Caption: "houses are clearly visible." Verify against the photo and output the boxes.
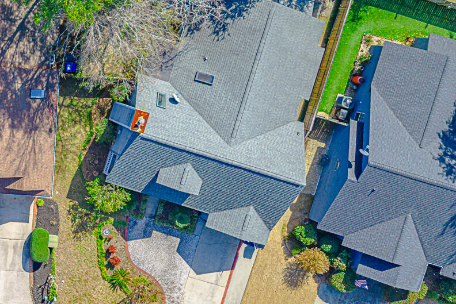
[307,33,456,292]
[101,0,327,249]
[0,0,61,198]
